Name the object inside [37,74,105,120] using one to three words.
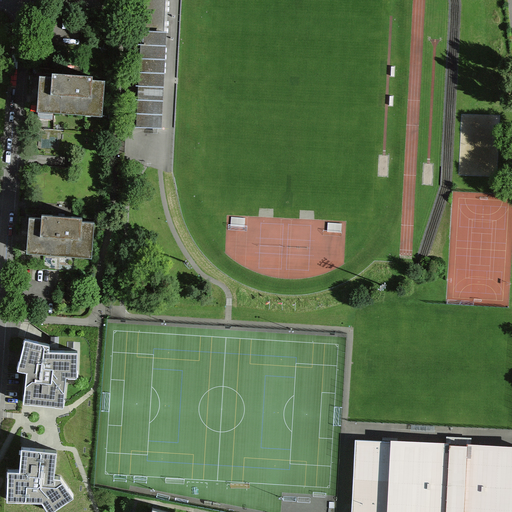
house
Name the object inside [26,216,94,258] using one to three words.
house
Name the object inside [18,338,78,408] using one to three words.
building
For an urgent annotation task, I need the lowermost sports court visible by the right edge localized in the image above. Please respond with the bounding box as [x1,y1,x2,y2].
[446,192,512,308]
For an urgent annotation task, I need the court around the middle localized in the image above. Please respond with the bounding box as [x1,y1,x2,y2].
[225,215,346,280]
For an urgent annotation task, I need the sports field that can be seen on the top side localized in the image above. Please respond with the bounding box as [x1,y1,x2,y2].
[174,0,448,296]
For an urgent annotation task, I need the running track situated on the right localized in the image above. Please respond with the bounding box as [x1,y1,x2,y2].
[400,0,425,255]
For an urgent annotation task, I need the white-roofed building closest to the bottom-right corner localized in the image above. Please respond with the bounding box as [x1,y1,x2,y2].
[350,436,512,512]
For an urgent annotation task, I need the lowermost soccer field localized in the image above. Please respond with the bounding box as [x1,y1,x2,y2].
[95,324,346,512]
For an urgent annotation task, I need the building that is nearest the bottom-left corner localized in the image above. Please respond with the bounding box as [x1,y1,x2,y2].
[6,447,74,512]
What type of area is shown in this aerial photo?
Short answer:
sports ground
